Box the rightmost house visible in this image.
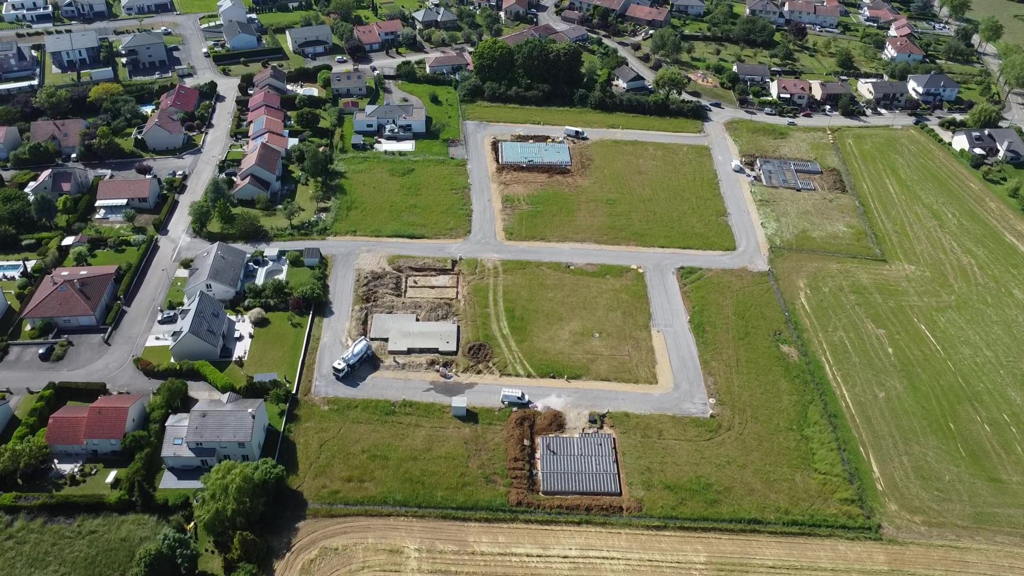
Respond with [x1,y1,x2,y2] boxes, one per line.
[949,126,1024,165]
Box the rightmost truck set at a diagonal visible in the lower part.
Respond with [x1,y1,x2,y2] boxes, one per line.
[332,337,377,380]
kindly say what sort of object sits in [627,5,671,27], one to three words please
house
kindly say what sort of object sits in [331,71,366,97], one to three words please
house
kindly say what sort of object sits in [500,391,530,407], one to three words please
vehicle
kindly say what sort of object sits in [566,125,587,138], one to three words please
vehicle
